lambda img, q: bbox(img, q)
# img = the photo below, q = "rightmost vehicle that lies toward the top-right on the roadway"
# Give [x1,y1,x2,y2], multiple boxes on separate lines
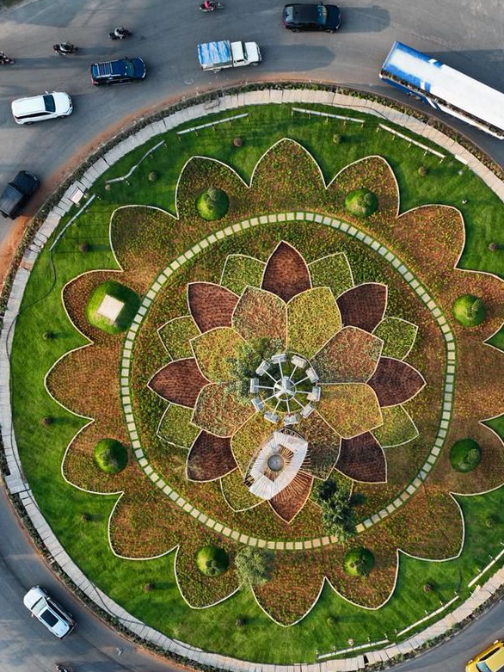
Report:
[379,42,504,142]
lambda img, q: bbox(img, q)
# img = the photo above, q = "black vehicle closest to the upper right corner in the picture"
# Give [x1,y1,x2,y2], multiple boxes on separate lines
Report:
[283,2,341,34]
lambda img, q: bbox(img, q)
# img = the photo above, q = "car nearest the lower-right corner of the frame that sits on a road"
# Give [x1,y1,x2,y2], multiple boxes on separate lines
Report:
[464,641,504,672]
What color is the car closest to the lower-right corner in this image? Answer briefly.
yellow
